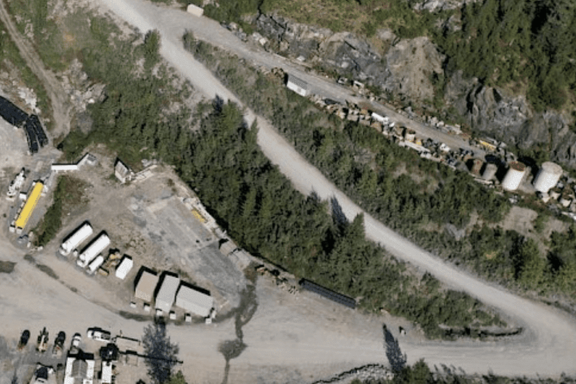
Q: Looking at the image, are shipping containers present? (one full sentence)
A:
Yes, the frame does contain a shipping container.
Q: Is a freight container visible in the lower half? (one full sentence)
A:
Yes, you'll find a freight container in the lower half.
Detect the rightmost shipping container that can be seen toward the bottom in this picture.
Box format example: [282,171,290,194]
[300,271,359,309]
